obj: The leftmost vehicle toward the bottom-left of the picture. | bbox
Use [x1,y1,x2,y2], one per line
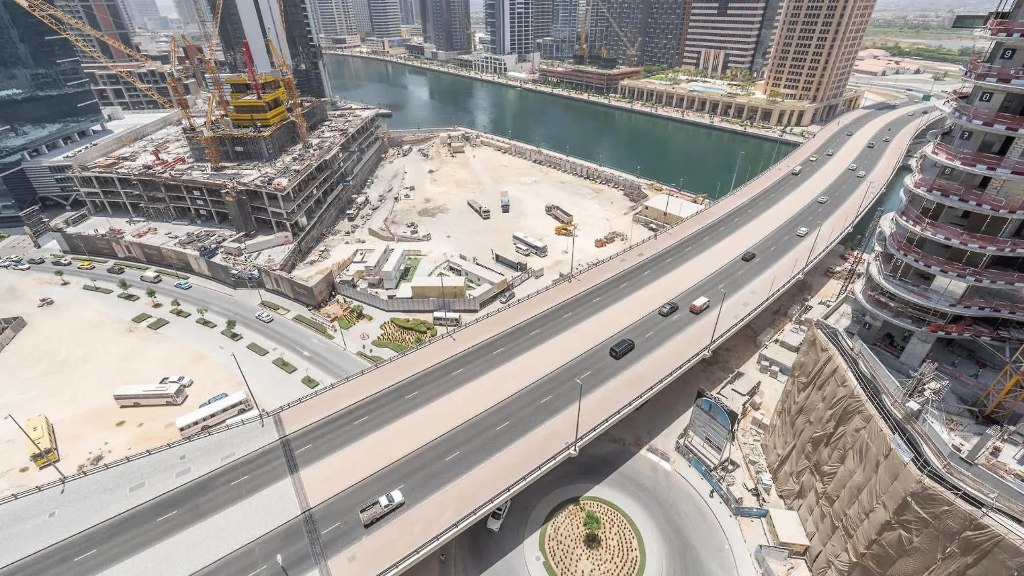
[22,415,53,463]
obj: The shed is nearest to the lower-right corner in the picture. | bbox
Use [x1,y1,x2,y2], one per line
[765,508,812,557]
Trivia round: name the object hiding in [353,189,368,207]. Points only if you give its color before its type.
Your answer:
white vehicle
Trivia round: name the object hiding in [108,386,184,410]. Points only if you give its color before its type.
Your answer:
white bus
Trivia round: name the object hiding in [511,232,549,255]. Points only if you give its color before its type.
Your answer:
white bus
